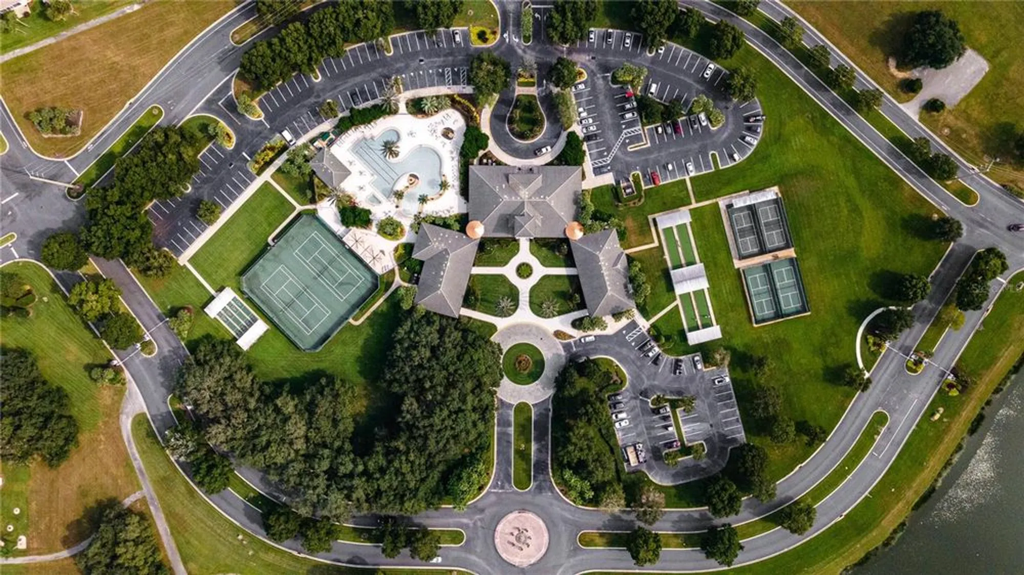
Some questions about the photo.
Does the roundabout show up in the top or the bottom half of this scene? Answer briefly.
bottom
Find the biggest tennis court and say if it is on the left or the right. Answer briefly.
left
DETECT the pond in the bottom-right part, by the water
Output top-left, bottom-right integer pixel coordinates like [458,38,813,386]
[839,352,1024,575]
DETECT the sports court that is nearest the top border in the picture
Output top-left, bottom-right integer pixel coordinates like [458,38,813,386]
[720,186,795,260]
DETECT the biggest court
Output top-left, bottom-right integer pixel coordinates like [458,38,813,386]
[245,216,376,350]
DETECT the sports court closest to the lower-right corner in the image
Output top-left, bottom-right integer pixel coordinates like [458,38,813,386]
[739,256,810,326]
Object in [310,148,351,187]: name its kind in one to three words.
building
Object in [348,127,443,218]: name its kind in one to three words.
swimming pool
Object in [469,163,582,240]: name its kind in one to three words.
building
